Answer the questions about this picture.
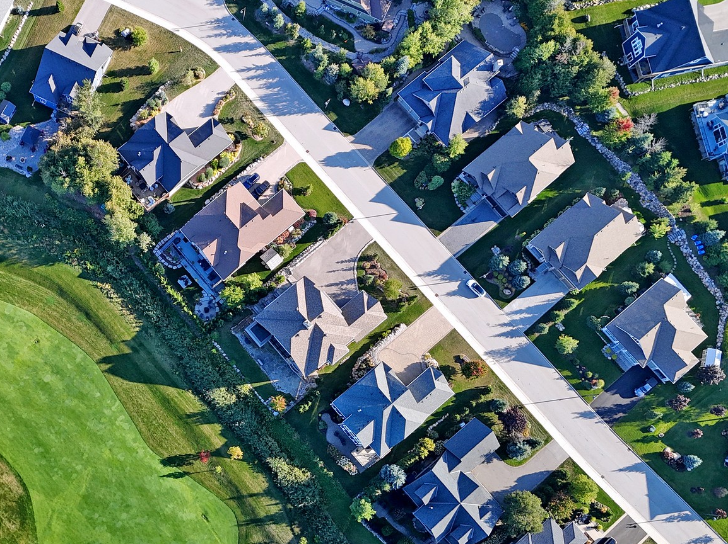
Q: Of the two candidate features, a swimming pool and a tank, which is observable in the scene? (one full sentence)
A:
Of the two, only a swimming pool appears.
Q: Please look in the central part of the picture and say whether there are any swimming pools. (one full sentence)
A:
No, I see no swimming pool in the central part of the picture.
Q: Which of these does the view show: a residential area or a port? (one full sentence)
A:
What you see here is a residential area.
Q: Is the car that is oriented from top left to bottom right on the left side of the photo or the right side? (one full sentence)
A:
The car that is oriented from top left to bottom right appears in the right half of the scene.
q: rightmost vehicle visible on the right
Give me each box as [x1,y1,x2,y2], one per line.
[632,375,661,399]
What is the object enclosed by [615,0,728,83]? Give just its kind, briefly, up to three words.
house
